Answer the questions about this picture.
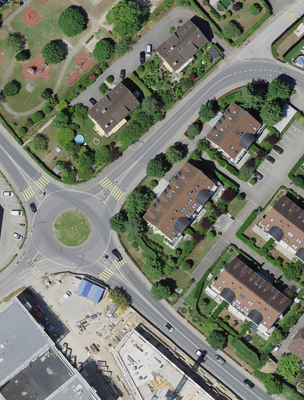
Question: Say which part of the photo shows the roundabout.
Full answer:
Look in the left portion of the view to spot the roundabout.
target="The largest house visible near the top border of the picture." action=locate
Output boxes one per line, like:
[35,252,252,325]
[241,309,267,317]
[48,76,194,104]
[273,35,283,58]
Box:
[156,20,210,74]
